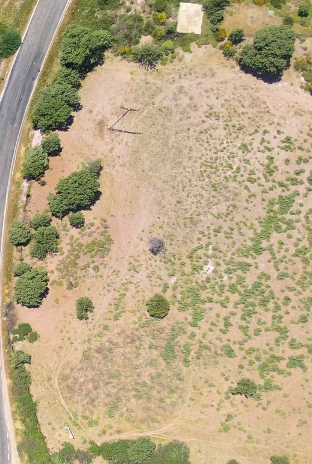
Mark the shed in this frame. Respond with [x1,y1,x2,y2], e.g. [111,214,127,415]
[171,2,203,37]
